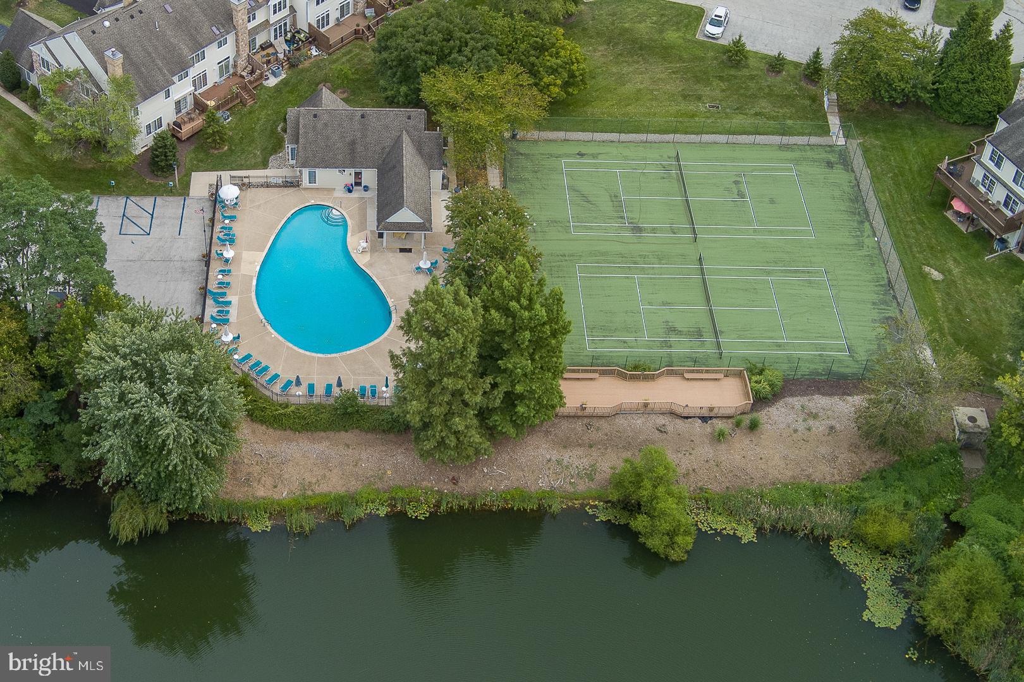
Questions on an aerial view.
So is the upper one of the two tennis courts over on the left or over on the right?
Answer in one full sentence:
The upper one of the two tennis courts is on the right side of the image.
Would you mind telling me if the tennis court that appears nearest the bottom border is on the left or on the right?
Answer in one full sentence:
It is on the right.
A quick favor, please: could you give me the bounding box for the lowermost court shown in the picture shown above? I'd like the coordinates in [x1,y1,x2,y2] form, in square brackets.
[529,248,910,380]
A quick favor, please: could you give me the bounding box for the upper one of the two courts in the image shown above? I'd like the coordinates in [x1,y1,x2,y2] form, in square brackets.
[507,140,877,254]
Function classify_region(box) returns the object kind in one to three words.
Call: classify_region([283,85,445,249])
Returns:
building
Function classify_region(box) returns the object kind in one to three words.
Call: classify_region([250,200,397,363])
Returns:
swimming pool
